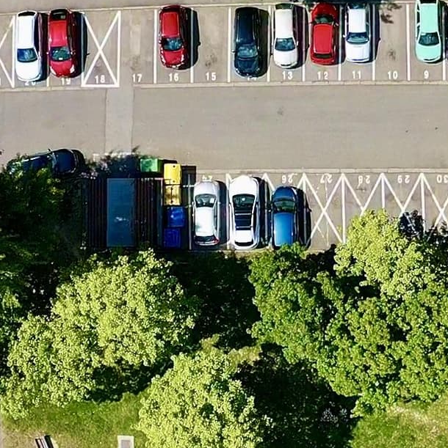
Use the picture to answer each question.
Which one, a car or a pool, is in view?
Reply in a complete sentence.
It is a car that can be seen here.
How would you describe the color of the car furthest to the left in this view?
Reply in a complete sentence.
The color of the car furthest to the left is white.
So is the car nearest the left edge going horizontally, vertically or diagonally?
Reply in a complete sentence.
The car nearest the left edge runs vertically in the image.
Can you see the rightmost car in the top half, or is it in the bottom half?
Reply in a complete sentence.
The rightmost car sits in the top half of the picture.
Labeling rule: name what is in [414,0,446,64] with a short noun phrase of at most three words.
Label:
car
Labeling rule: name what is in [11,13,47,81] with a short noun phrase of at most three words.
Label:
car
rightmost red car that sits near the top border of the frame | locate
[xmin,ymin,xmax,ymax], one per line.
[307,5,339,65]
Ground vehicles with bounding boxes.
[343,6,374,64]
[269,6,301,69]
[189,181,221,245]
[414,0,446,64]
[11,13,47,81]
[270,187,302,247]
[46,10,80,77]
[307,5,339,65]
[228,178,262,247]
[15,146,86,179]
[233,8,266,77]
[157,7,190,70]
